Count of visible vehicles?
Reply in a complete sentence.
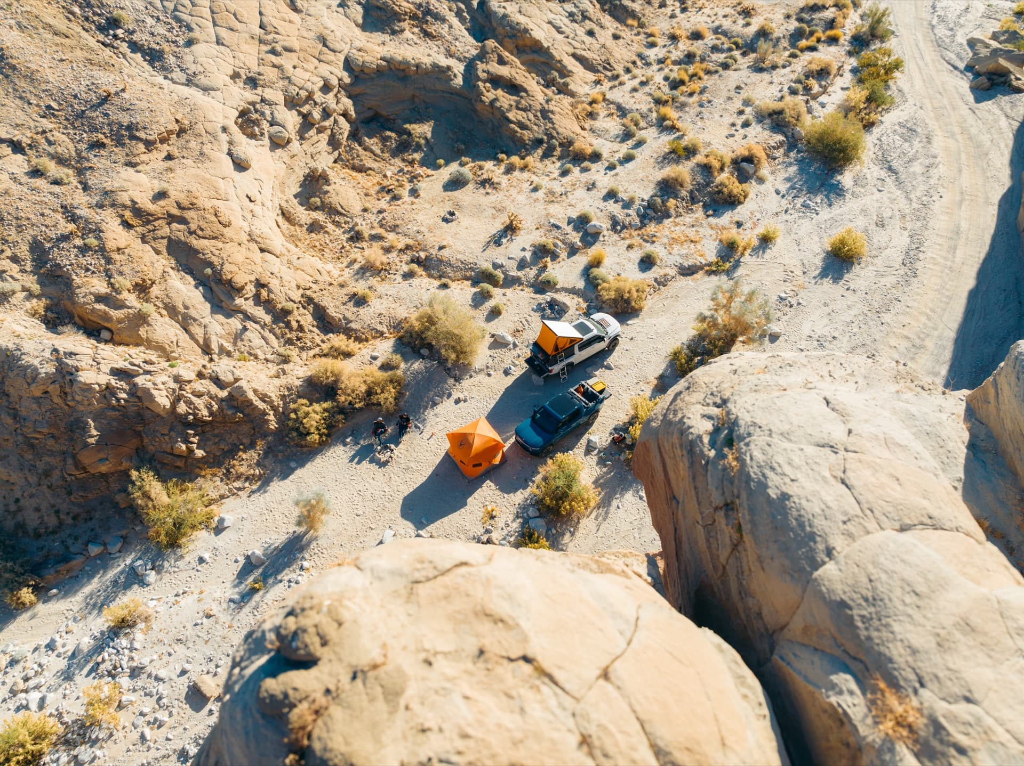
In total, 2 vehicles can be seen.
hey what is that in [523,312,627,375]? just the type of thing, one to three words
truck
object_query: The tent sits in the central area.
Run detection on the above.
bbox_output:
[443,417,510,484]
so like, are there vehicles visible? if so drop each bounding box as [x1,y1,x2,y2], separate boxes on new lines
[508,380,611,459]
[523,312,627,375]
